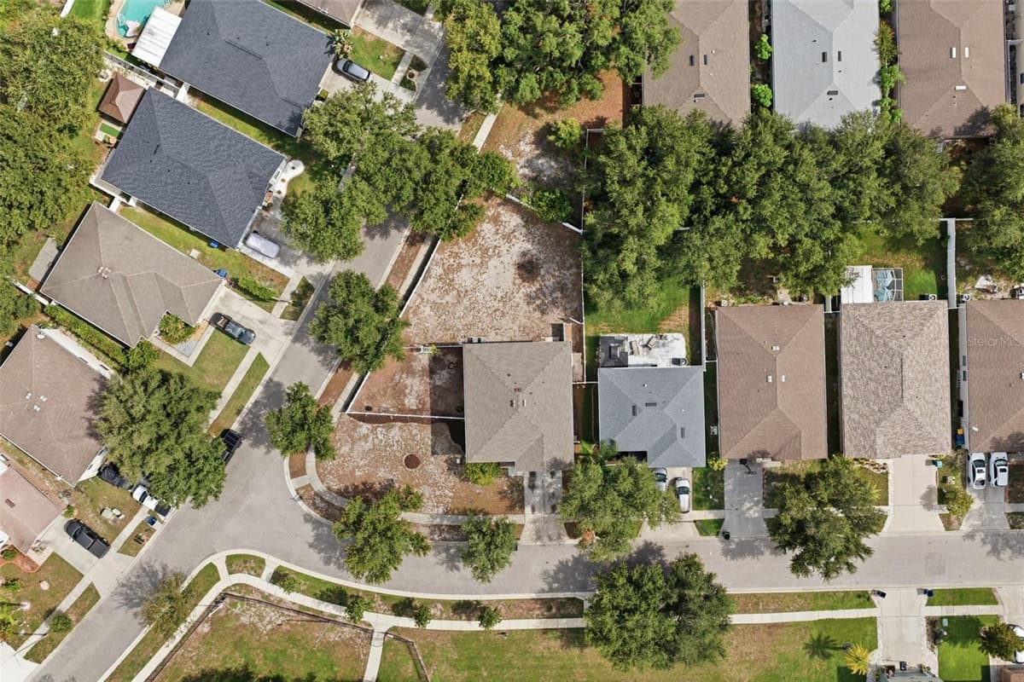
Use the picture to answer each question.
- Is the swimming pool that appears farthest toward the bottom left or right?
right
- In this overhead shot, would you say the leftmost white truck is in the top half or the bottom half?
bottom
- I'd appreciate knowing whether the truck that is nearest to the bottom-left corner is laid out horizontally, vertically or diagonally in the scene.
diagonally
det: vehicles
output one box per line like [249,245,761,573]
[966,452,989,491]
[63,519,112,561]
[673,475,693,516]
[651,468,671,505]
[212,426,247,471]
[96,464,120,485]
[332,55,374,84]
[129,487,176,523]
[987,452,1012,490]
[211,313,256,345]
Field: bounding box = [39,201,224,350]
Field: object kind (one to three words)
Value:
house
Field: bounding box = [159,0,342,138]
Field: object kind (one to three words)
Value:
house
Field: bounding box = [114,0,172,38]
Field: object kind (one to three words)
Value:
swimming pool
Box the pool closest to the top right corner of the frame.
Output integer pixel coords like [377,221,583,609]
[875,268,896,301]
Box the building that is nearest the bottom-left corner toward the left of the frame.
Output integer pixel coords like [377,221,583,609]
[0,448,67,554]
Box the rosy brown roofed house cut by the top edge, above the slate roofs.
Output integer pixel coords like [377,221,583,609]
[295,0,368,30]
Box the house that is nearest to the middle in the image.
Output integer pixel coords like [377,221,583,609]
[463,324,574,476]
